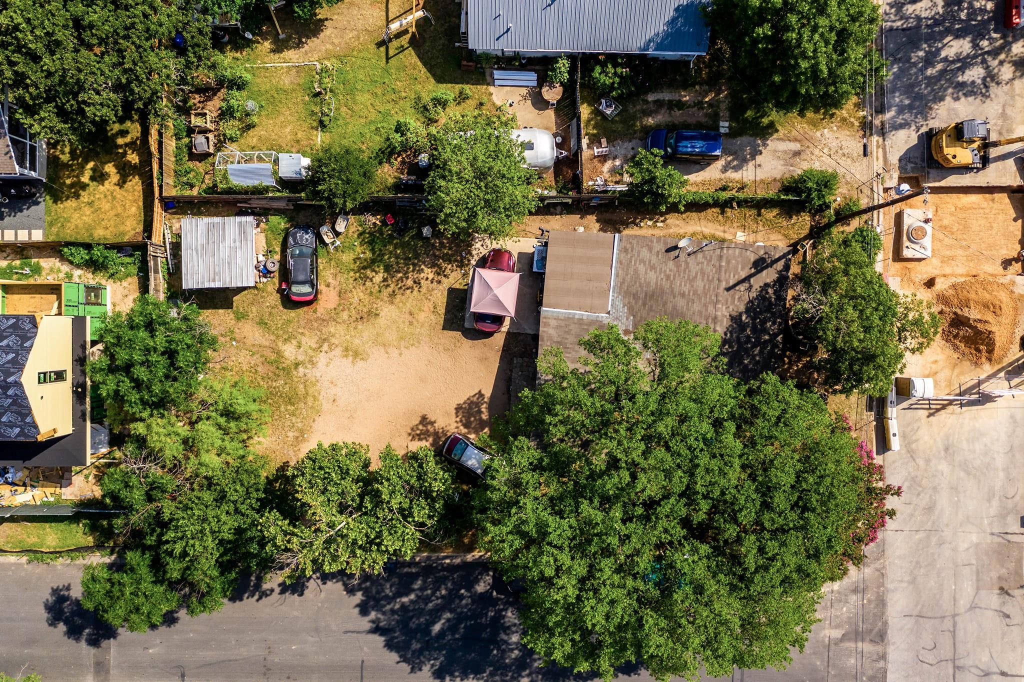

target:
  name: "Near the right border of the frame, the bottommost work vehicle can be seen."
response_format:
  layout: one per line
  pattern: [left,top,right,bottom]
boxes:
[923,116,1024,171]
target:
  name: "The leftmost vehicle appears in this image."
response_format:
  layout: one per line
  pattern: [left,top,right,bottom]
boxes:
[279,222,319,305]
